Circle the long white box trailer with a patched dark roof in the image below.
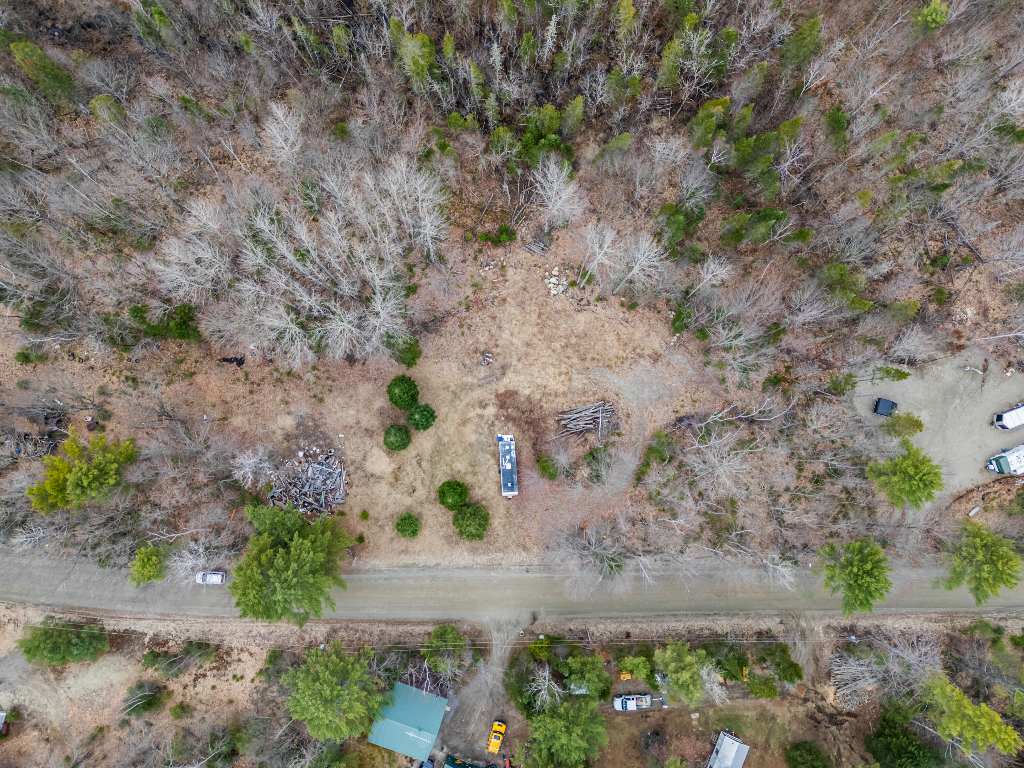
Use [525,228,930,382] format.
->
[499,428,518,496]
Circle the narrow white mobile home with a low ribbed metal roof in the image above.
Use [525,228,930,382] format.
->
[705,732,750,768]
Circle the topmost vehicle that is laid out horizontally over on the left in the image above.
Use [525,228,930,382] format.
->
[196,570,228,586]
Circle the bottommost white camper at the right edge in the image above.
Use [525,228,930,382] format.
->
[985,444,1024,474]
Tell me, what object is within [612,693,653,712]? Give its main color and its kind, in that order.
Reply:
white vehicle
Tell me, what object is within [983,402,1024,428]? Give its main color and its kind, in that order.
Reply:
white trailer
